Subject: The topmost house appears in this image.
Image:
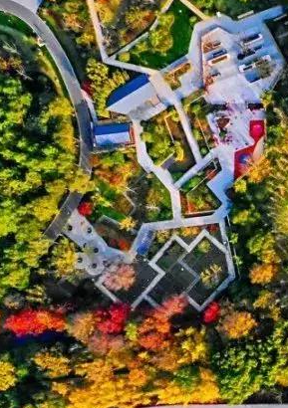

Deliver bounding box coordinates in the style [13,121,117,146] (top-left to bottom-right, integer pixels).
[106,71,167,126]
